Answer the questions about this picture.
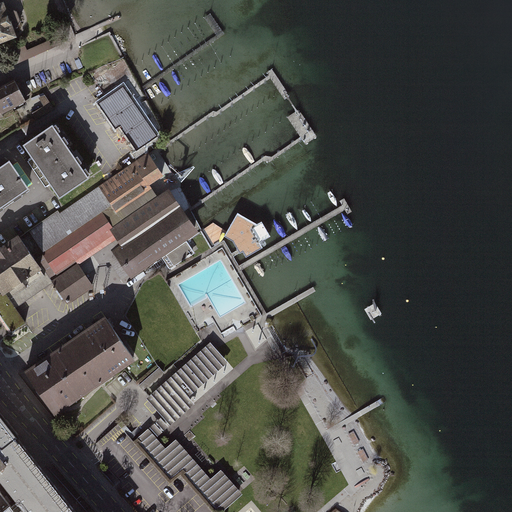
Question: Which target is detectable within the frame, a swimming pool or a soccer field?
swimming pool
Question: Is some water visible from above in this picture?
Yes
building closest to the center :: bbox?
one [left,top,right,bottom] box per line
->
[226,214,270,256]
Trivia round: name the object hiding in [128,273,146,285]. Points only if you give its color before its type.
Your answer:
white vehicle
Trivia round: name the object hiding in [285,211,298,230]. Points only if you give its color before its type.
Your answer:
white boat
